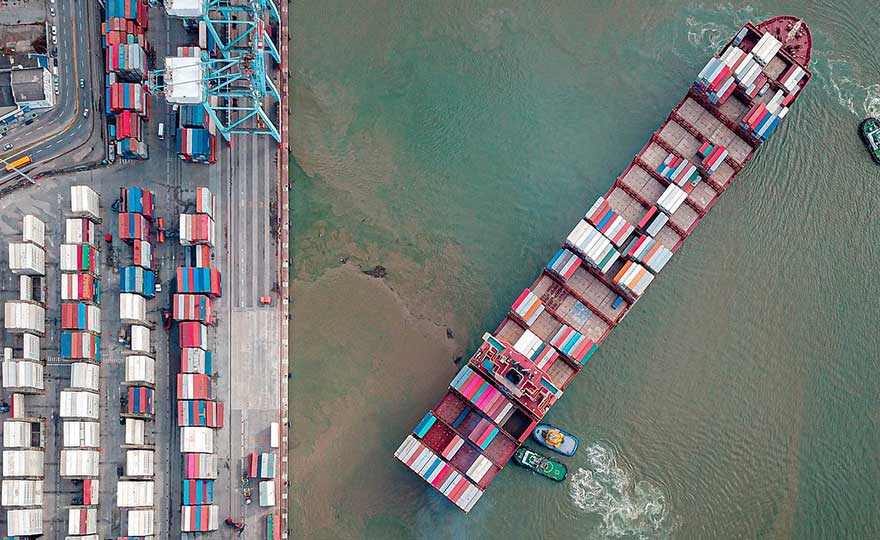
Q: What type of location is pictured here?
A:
port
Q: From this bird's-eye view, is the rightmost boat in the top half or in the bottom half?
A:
top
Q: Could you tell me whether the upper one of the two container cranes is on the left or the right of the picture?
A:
left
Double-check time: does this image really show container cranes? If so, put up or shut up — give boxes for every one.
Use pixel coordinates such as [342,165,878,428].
[150,0,285,73]
[150,9,290,150]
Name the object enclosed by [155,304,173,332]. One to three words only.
work vehicle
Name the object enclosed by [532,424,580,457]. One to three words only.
boat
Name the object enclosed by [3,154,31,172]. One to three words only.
vehicle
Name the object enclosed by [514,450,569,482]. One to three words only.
boat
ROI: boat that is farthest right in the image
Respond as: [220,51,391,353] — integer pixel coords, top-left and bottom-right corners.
[859,116,880,165]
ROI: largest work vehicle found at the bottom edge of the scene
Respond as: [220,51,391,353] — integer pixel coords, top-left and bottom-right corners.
[224,519,248,539]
